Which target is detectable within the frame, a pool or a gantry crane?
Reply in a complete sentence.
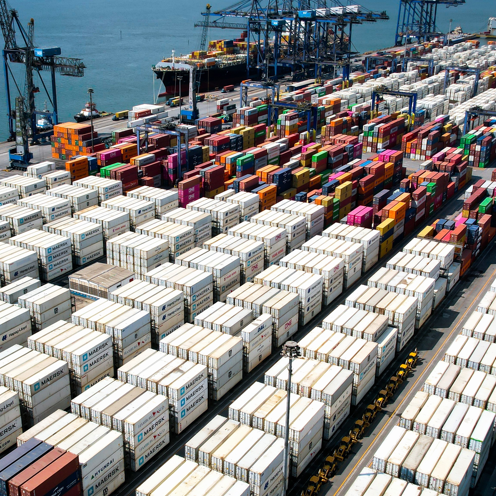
This aerial view contains a gantry crane.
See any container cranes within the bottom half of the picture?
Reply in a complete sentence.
No, I see no container crane within the bottom half of the picture.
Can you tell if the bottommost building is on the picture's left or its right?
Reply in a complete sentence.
The bottommost building sits on the left side.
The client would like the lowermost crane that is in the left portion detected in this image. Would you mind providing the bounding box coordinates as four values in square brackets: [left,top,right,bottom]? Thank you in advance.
[140,127,198,180]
